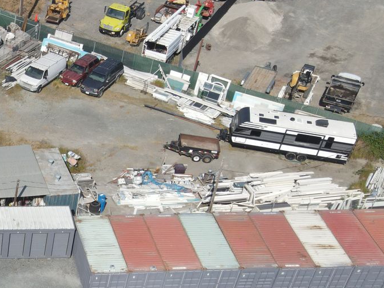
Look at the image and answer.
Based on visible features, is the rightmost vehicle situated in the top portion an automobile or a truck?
truck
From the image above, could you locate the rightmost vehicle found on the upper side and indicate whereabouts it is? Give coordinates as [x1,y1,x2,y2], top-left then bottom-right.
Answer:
[317,66,368,116]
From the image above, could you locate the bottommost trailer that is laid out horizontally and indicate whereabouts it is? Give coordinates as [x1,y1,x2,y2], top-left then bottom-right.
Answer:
[150,132,215,164]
